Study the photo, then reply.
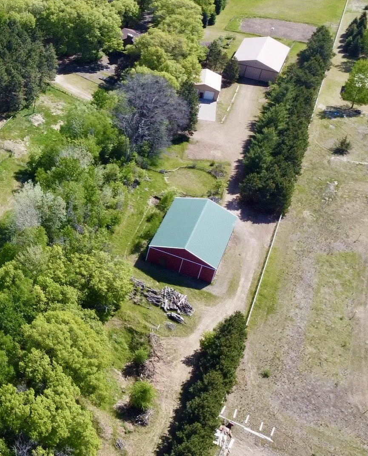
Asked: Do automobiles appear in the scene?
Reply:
No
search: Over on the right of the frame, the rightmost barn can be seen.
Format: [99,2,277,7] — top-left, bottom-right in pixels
[240,37,291,84]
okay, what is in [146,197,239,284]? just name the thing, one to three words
barn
